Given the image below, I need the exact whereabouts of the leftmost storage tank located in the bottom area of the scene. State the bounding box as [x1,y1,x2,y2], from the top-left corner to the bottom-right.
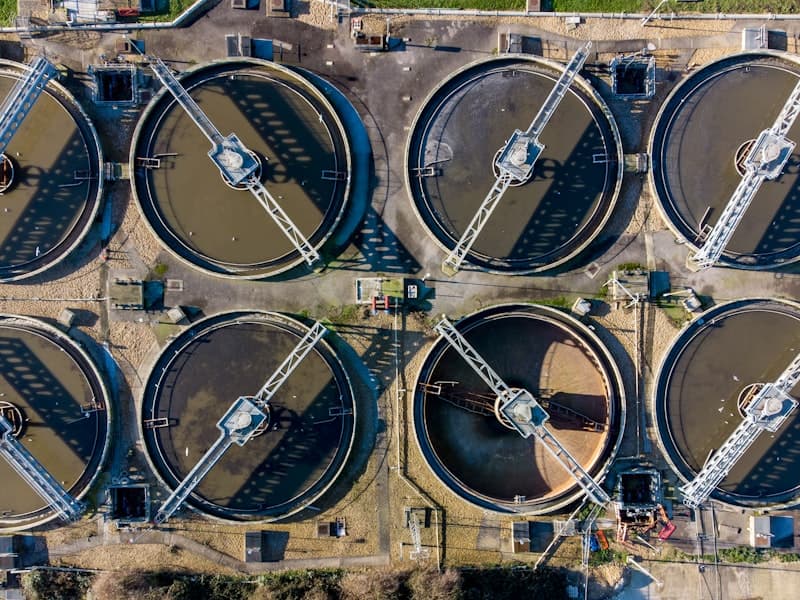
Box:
[0,314,113,531]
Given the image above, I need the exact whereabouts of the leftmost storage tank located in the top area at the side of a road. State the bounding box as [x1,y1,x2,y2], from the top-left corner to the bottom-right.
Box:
[0,60,105,279]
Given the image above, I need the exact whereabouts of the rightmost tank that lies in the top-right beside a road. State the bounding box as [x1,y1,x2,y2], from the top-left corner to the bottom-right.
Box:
[645,48,800,271]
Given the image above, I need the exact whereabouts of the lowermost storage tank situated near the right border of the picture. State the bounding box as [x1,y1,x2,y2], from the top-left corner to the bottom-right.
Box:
[651,297,800,510]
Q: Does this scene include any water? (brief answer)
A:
Yes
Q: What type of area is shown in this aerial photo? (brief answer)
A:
industrial area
